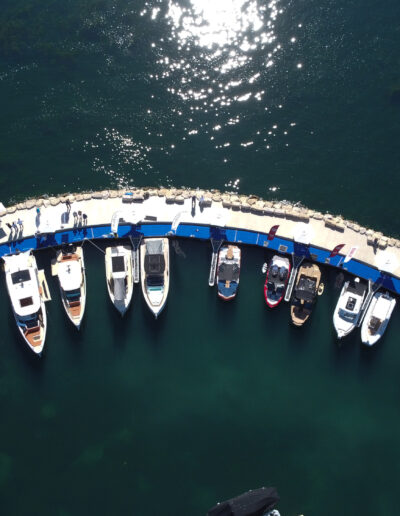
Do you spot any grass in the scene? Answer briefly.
No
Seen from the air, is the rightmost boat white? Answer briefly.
Yes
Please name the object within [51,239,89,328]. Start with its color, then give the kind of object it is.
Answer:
white boat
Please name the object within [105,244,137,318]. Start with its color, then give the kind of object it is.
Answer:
white boat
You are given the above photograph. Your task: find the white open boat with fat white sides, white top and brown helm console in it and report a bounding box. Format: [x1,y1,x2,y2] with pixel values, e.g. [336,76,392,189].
[361,290,397,347]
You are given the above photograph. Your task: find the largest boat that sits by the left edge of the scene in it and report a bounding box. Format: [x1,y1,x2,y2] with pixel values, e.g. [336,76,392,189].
[3,250,47,356]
